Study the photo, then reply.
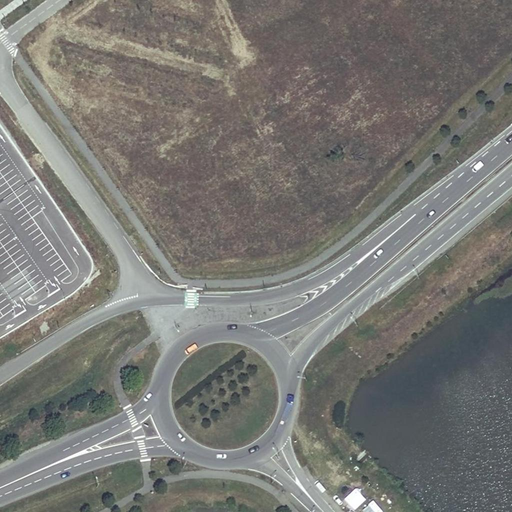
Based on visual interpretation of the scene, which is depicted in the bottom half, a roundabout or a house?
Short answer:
roundabout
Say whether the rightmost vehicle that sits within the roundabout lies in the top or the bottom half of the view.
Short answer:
bottom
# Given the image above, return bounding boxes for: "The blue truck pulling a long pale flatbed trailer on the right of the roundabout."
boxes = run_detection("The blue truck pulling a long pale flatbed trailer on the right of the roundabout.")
[277,395,296,426]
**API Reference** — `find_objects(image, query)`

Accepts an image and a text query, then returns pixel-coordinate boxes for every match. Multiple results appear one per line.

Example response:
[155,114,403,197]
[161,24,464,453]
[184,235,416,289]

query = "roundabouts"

[150,322,303,470]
